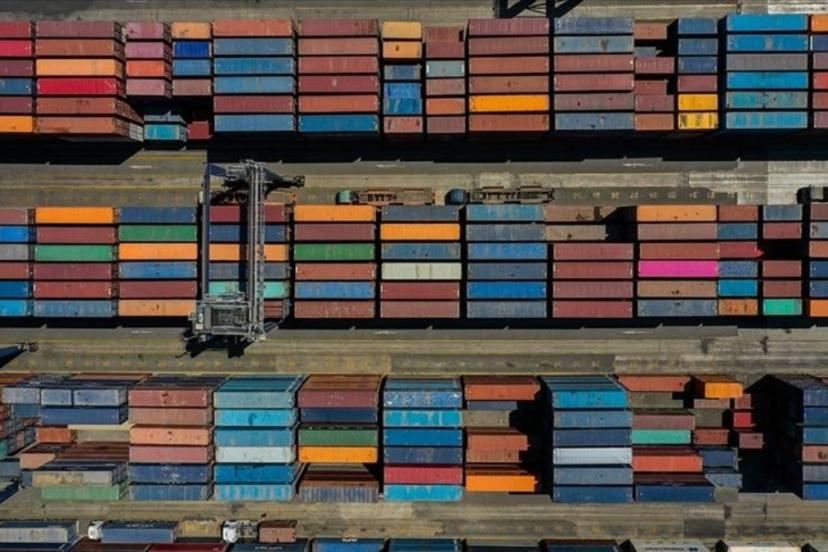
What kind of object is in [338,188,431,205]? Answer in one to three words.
vehicle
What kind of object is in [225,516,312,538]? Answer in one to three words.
truck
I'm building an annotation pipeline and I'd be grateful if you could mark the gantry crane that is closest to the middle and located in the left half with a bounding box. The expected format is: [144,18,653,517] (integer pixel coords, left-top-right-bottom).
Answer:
[188,161,312,346]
